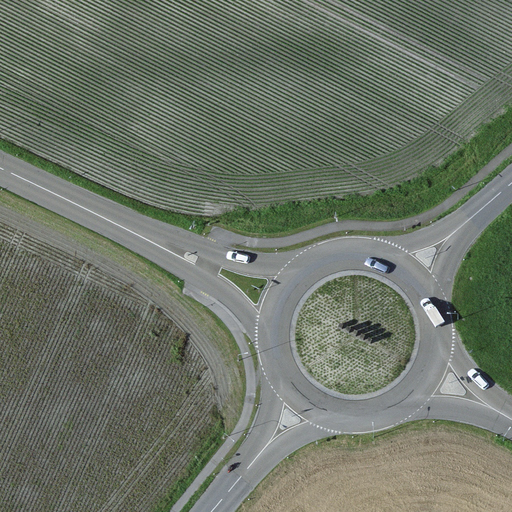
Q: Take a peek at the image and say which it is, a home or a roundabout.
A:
roundabout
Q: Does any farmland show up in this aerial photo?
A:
Yes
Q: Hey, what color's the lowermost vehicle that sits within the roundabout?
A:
white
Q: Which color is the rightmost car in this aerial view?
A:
white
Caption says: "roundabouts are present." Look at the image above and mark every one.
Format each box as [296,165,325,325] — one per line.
[255,236,455,434]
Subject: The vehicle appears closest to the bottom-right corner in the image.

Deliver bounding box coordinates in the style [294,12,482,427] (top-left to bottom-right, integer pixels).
[468,369,490,390]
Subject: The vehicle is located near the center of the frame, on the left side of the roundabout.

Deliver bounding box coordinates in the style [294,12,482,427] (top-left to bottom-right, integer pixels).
[226,251,250,263]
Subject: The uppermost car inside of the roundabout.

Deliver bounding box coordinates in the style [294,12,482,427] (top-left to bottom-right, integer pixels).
[366,258,388,273]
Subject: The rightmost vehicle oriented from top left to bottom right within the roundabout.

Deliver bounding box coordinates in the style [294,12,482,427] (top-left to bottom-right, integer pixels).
[421,298,445,328]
